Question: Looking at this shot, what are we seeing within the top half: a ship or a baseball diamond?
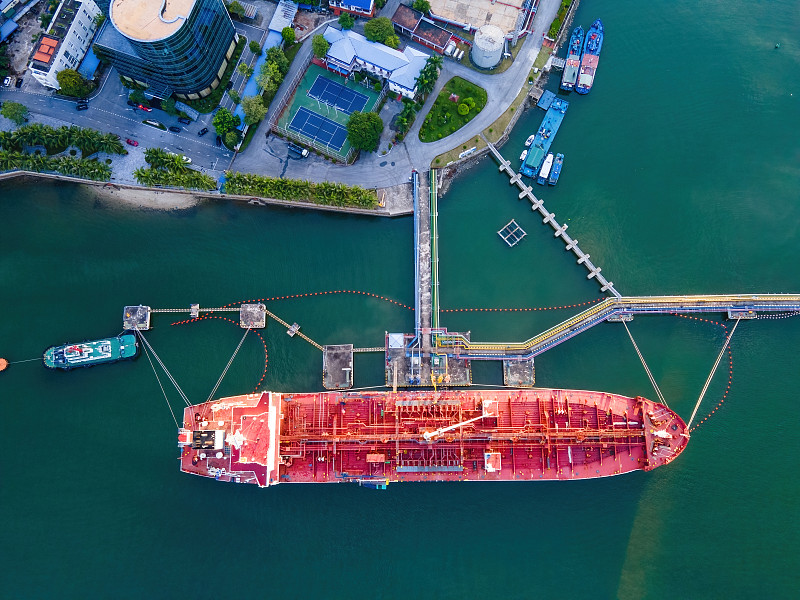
ship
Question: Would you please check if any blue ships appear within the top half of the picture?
Yes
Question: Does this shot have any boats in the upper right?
Yes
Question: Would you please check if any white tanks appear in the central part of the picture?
No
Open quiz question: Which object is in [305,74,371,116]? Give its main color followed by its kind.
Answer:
blue tennis court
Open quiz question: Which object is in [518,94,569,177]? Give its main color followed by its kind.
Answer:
blue ship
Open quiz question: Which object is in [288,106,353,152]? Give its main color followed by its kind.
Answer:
blue tennis court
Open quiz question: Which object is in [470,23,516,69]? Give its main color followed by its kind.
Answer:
white storage tank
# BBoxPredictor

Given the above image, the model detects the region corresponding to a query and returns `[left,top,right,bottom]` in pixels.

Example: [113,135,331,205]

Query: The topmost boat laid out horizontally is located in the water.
[42,332,141,371]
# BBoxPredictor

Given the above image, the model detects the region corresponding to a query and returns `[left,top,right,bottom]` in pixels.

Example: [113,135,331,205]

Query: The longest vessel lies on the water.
[173,390,695,488]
